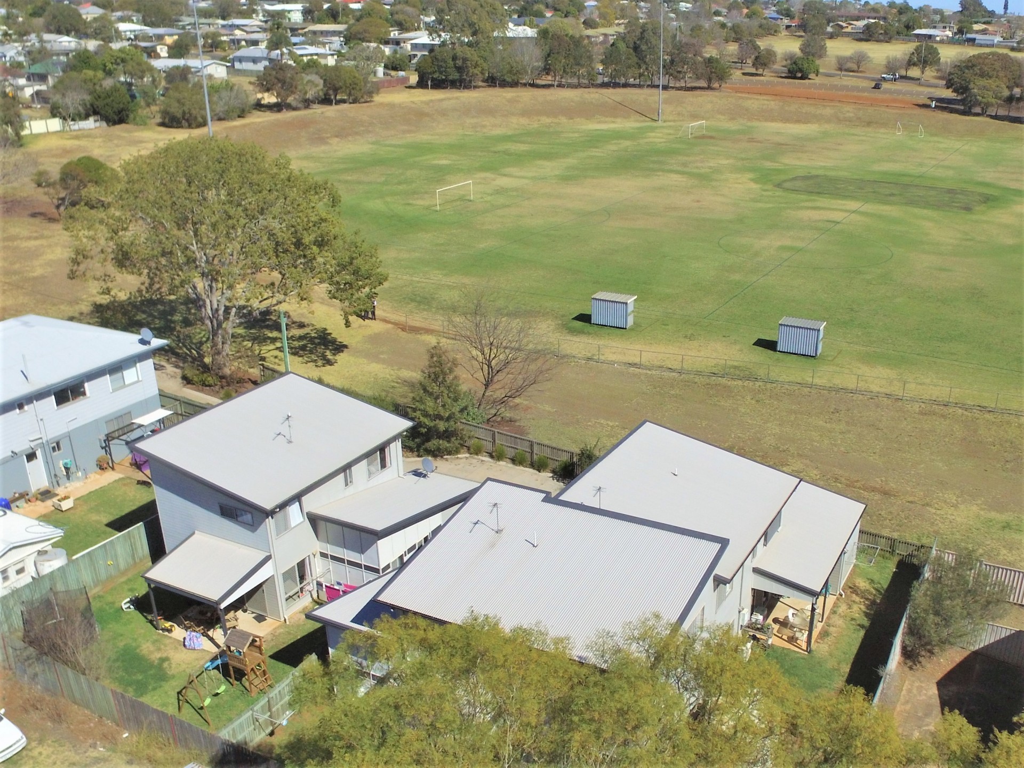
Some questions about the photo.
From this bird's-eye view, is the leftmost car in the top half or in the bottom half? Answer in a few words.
bottom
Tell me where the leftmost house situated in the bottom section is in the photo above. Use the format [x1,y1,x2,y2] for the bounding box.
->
[0,515,56,602]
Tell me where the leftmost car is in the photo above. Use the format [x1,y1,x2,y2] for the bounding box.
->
[0,705,37,763]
